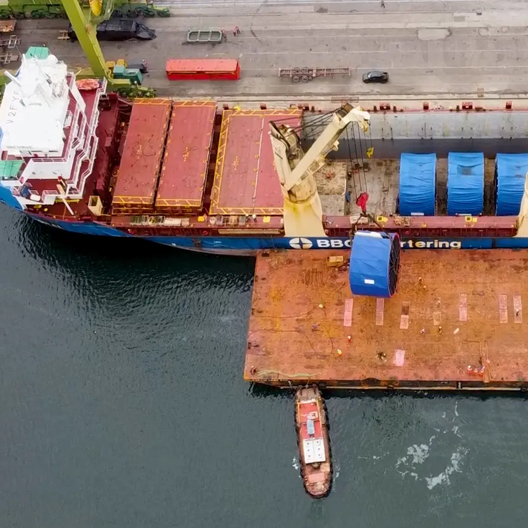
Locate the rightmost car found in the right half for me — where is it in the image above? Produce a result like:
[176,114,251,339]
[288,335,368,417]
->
[362,71,388,84]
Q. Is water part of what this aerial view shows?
Yes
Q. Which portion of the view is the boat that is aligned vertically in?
bottom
